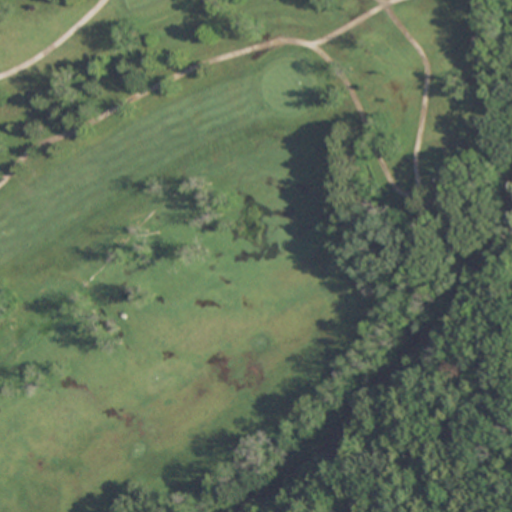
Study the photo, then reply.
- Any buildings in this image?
No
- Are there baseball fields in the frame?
No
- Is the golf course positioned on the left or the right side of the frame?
left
